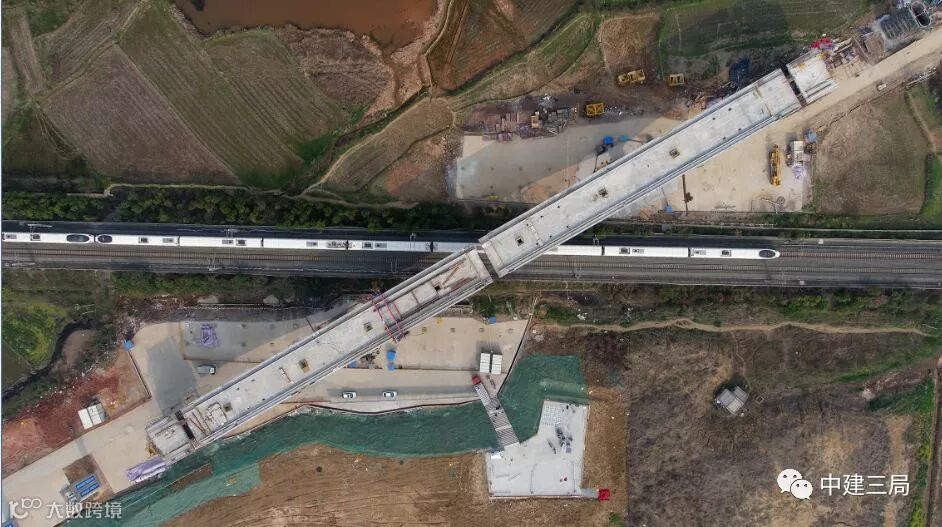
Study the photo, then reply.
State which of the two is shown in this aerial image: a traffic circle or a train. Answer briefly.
train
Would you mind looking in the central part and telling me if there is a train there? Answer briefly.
Yes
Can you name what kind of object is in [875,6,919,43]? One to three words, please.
shed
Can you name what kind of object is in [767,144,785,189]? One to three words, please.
vehicle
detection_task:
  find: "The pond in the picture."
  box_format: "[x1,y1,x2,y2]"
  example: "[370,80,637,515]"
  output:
[178,0,436,53]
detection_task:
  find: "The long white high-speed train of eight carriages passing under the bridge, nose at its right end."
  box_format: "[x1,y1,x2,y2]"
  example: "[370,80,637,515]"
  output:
[97,234,779,260]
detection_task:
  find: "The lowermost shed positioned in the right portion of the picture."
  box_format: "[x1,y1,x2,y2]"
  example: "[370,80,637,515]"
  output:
[715,380,751,415]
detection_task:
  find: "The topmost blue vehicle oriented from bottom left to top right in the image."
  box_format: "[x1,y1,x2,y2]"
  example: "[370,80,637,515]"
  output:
[594,133,616,154]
